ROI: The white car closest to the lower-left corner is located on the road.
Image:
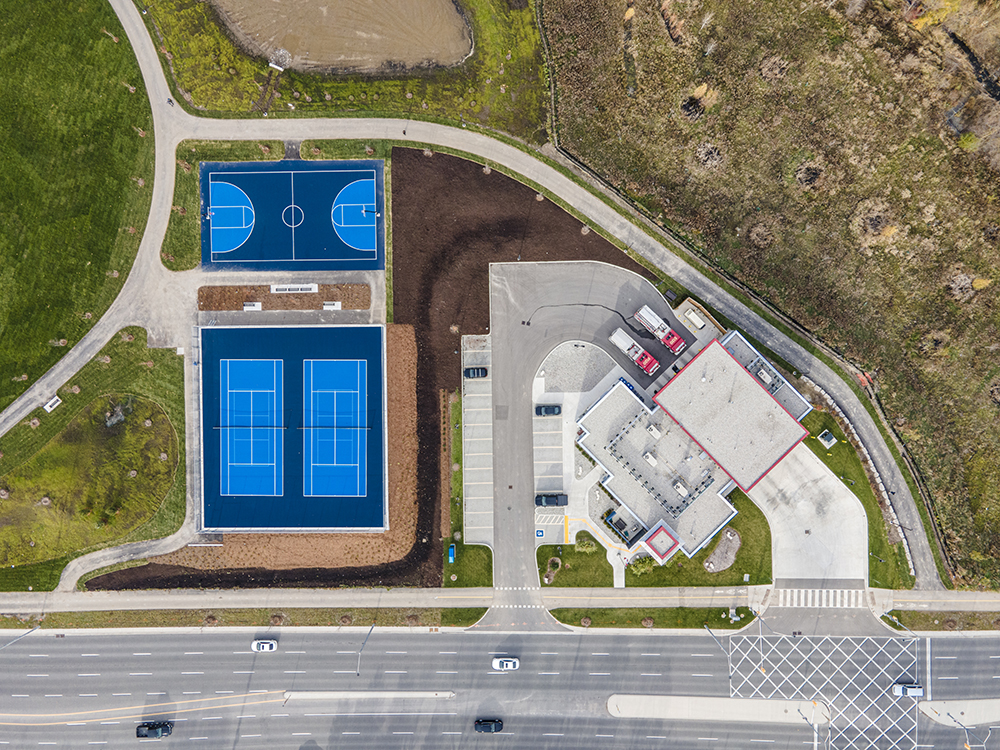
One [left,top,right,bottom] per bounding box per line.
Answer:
[251,639,278,653]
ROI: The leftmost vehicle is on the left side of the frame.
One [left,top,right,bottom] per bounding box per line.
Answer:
[137,722,173,738]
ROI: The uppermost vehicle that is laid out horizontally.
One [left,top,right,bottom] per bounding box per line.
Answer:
[462,366,488,379]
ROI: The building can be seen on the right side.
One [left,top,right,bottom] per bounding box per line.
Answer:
[573,330,814,566]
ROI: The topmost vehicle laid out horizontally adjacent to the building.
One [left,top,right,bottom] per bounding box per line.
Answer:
[534,404,562,417]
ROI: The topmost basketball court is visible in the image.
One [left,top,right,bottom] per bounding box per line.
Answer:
[199,159,384,271]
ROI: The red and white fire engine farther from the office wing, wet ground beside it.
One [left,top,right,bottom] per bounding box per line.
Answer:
[633,306,684,354]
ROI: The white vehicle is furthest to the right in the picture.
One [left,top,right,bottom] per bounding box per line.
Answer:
[892,683,925,698]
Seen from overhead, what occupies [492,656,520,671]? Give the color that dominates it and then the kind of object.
white car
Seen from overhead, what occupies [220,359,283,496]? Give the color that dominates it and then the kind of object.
blue tennis court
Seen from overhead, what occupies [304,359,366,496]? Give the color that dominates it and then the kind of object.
blue tennis court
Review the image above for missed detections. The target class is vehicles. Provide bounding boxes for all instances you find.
[475,718,502,733]
[251,639,278,653]
[137,722,173,738]
[892,683,925,698]
[633,306,684,354]
[462,366,488,379]
[534,404,562,417]
[607,330,658,378]
[535,493,568,508]
[492,656,520,671]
